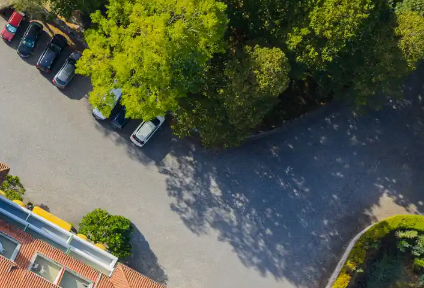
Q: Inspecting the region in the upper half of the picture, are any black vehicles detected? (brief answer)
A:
Yes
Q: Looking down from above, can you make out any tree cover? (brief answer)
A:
Yes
